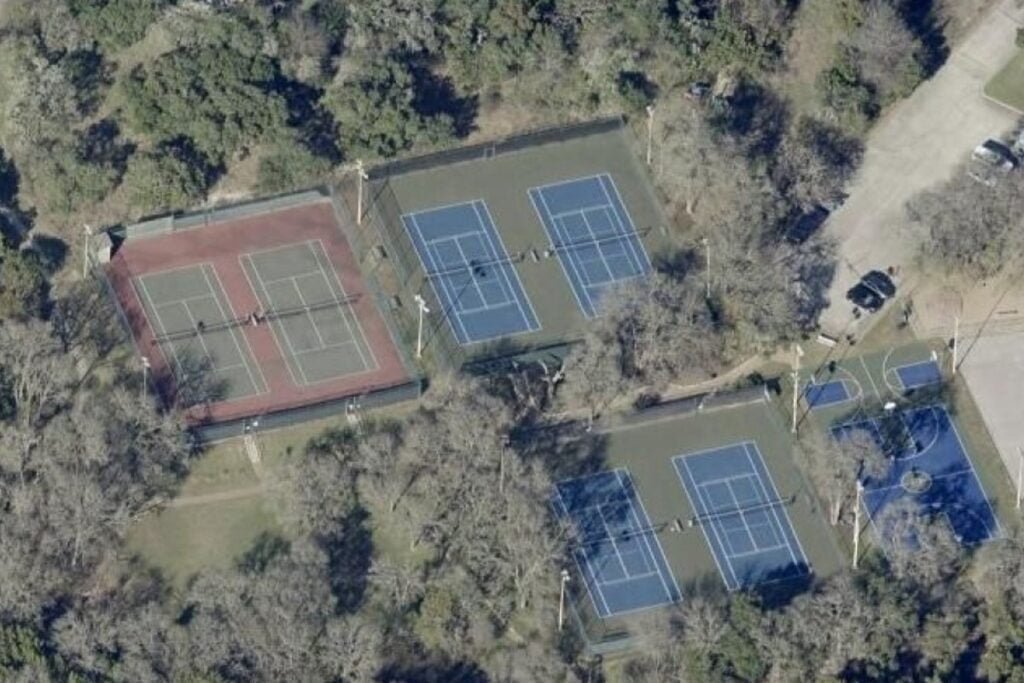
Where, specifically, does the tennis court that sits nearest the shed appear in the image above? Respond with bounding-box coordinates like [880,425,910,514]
[130,262,269,409]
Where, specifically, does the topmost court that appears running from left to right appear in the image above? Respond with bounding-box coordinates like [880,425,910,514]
[791,346,954,425]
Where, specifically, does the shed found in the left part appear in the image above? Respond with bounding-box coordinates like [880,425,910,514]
[94,227,116,261]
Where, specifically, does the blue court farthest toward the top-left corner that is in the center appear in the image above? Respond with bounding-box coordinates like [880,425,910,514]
[402,199,542,345]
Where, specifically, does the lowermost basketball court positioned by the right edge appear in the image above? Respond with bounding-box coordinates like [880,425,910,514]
[830,405,1003,555]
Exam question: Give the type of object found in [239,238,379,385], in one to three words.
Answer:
tennis court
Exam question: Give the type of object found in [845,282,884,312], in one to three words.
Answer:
car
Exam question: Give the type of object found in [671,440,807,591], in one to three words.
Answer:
tennis court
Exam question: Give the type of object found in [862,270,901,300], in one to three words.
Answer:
car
